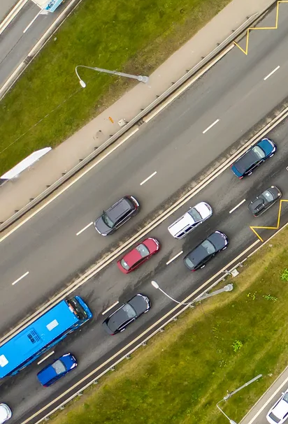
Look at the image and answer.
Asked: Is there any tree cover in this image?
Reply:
No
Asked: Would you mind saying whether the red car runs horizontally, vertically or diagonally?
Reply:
diagonally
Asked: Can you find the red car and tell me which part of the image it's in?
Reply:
center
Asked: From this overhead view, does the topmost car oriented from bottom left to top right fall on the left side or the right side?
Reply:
right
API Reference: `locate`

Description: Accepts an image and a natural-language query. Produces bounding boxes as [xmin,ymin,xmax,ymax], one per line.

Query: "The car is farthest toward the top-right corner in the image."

[230,138,277,180]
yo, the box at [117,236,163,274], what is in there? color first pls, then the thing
red car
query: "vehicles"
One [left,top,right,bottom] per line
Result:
[117,236,163,274]
[183,231,229,272]
[104,293,154,335]
[265,388,288,424]
[248,185,284,219]
[166,200,214,239]
[0,297,99,393]
[0,402,16,424]
[230,138,277,180]
[94,193,143,236]
[33,0,71,16]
